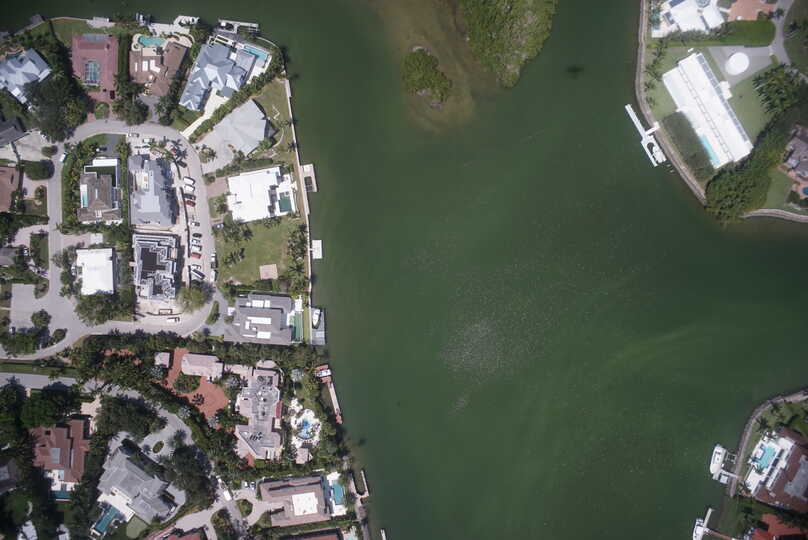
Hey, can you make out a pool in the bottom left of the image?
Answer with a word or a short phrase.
Yes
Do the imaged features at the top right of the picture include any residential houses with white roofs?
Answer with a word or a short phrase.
Yes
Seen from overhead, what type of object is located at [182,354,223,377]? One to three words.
building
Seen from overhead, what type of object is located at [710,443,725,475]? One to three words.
boat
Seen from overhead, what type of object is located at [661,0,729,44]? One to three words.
house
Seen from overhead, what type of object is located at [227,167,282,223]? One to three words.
house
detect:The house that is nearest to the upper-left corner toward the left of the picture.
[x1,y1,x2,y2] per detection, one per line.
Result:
[0,47,51,106]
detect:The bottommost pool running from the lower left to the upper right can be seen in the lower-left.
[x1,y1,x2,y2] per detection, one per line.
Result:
[94,506,118,534]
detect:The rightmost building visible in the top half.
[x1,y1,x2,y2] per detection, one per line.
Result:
[779,126,808,186]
